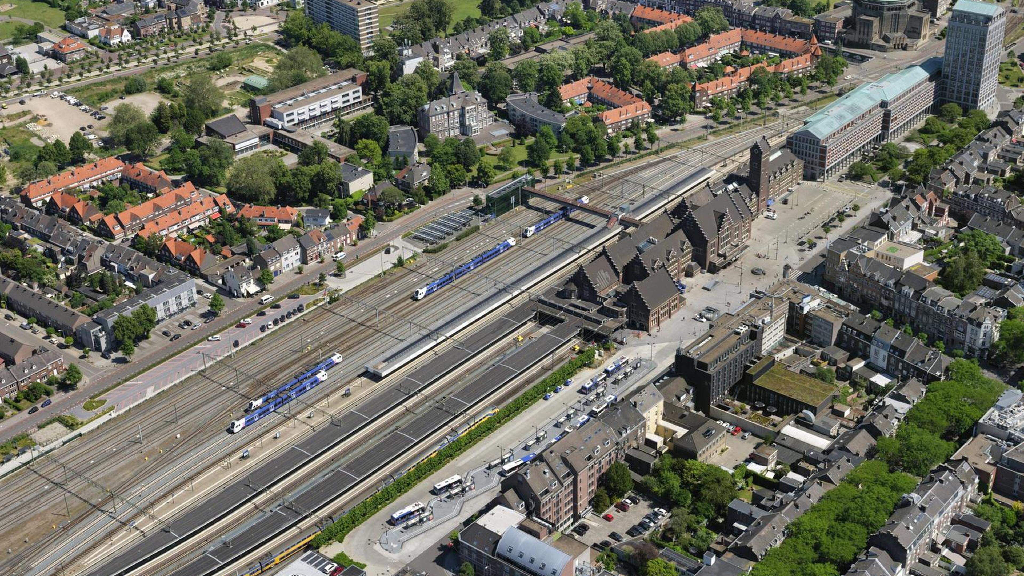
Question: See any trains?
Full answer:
Yes, a train is visible in the scene.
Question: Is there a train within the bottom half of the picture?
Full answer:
Yes, I can see a train within the bottom half of the picture.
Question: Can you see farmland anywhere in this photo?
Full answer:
No, there's no farmland in this view.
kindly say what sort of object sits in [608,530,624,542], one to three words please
vehicle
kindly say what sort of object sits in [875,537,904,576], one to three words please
house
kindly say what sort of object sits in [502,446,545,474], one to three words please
bus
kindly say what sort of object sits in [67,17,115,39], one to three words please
building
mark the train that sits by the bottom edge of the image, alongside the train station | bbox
[240,412,500,576]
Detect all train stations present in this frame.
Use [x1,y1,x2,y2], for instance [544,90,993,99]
[556,136,809,332]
